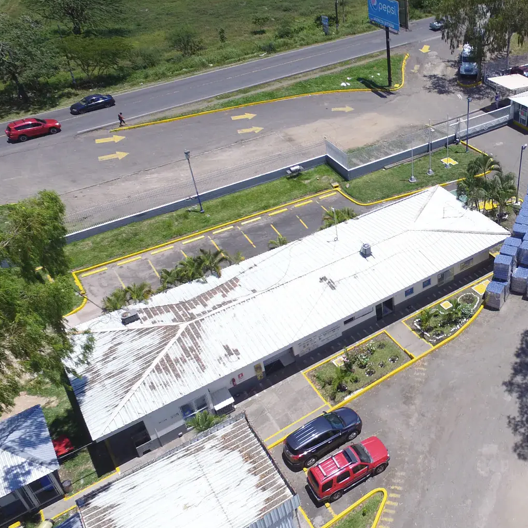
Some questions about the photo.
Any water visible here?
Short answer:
No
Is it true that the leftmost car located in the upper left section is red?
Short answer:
Yes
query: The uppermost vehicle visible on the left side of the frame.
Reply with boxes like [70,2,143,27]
[64,92,117,116]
